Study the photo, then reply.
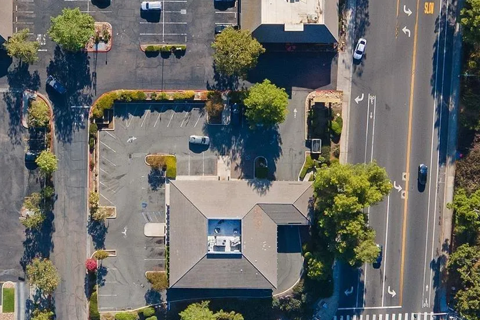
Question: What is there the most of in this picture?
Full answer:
Most of the picture is covered by paved ground.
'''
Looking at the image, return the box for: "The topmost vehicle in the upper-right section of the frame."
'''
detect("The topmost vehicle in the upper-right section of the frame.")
[351,37,367,60]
